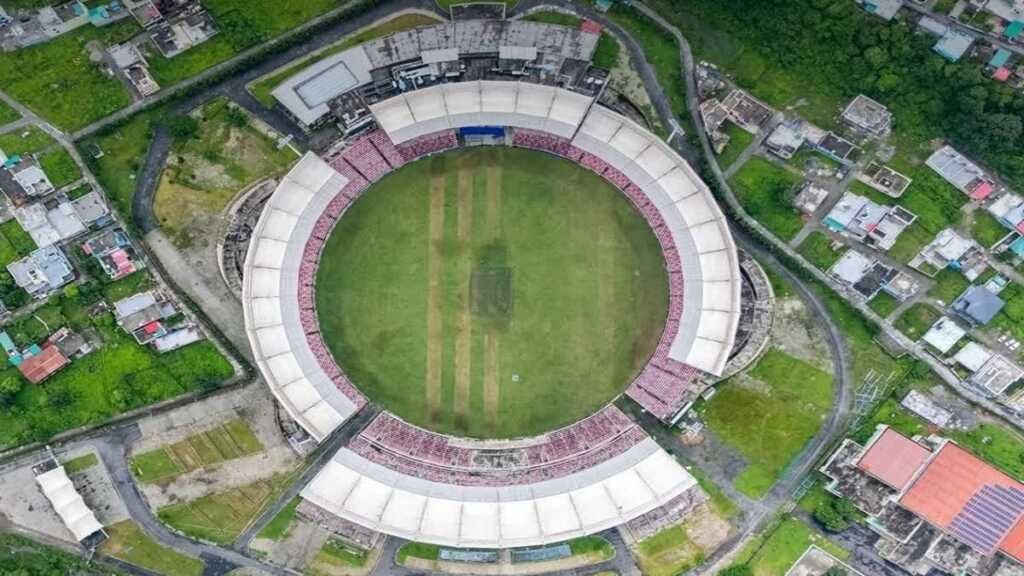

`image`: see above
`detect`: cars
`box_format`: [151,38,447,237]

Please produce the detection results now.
[997,334,1007,343]
[935,298,946,307]
[19,130,30,139]
[1004,338,1014,347]
[105,66,114,76]
[1009,343,1019,352]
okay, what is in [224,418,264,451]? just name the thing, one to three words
sports field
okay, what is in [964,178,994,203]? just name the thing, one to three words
house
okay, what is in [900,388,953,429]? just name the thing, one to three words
shed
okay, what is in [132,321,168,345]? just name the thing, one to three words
house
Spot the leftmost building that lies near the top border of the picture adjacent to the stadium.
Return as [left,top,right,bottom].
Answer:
[272,21,608,133]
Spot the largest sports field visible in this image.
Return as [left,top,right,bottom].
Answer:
[316,146,668,438]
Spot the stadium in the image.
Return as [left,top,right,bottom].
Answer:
[217,72,774,549]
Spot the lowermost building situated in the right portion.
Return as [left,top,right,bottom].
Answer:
[784,543,862,576]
